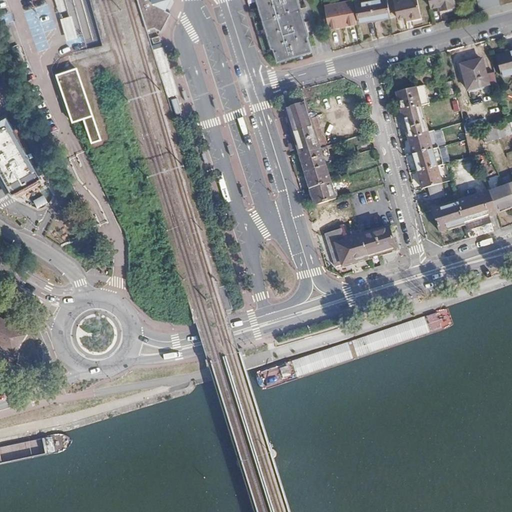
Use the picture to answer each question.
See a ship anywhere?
Yes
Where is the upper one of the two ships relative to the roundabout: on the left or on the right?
to its right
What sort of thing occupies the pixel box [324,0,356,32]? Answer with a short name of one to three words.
house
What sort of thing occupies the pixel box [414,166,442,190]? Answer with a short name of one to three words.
house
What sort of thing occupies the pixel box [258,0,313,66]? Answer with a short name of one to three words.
building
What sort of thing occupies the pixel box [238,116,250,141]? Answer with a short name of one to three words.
vehicle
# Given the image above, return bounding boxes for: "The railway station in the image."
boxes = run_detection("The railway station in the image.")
[65,0,98,48]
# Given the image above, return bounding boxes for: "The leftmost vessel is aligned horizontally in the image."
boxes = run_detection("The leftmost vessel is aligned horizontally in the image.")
[0,435,72,465]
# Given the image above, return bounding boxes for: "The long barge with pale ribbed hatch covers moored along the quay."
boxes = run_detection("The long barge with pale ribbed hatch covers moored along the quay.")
[256,312,454,386]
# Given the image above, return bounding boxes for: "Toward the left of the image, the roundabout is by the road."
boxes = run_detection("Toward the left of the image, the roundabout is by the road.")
[52,288,143,379]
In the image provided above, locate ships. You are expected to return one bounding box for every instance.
[0,435,72,465]
[256,312,454,386]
